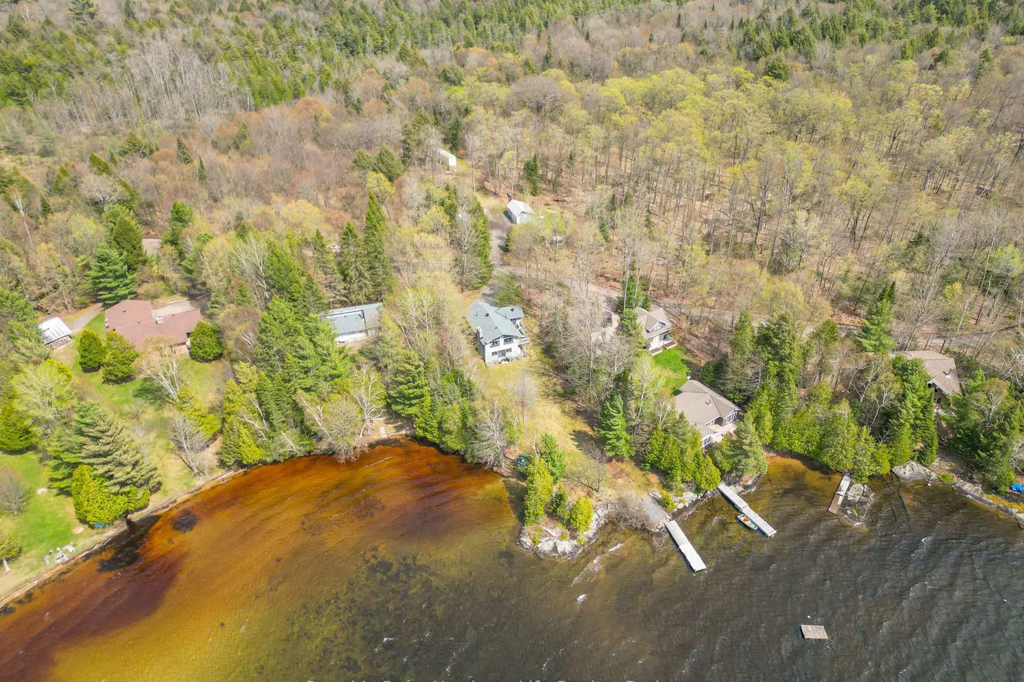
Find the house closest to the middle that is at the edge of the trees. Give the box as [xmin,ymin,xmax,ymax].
[457,301,532,366]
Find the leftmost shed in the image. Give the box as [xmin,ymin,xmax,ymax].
[40,322,75,354]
